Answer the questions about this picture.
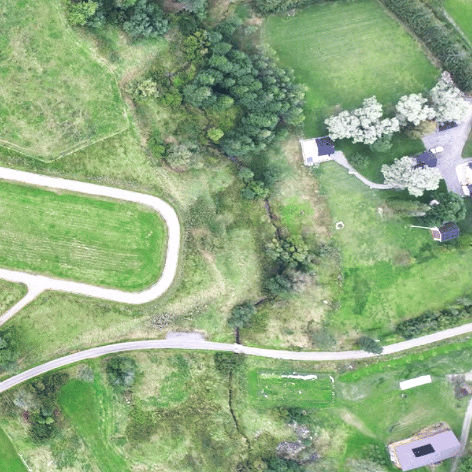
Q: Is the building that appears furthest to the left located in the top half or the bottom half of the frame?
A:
top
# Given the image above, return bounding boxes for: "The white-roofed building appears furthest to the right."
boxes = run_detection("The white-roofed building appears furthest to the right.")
[451,158,472,201]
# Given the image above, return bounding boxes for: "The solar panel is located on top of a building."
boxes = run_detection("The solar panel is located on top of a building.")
[412,445,434,460]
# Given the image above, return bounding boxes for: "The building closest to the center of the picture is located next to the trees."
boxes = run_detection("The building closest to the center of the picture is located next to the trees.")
[313,136,335,157]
